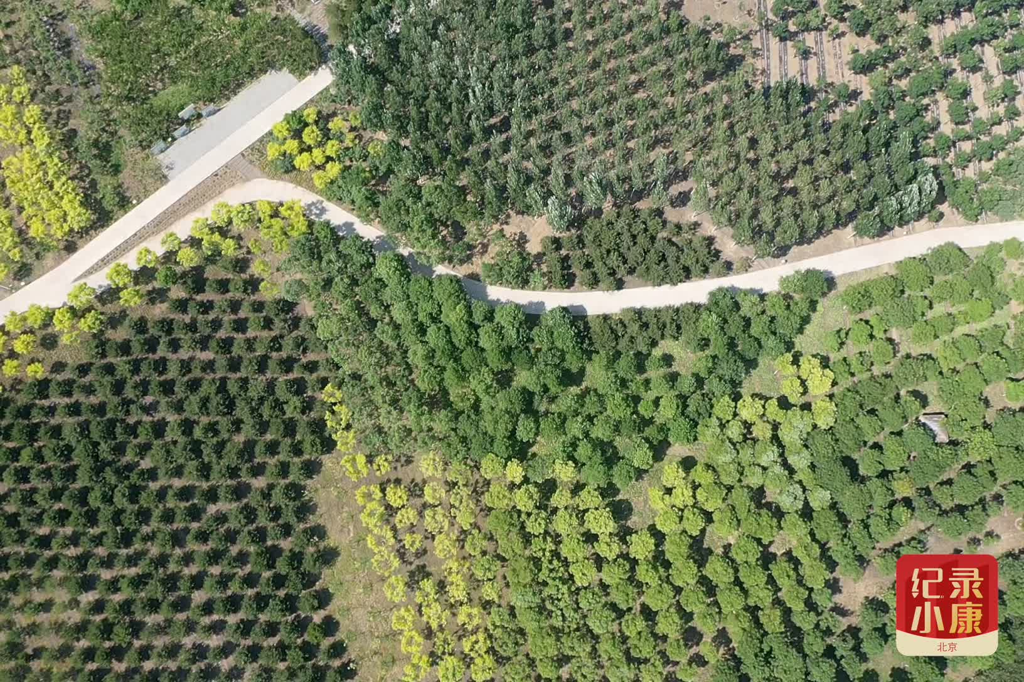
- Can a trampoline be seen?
No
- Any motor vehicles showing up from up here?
No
